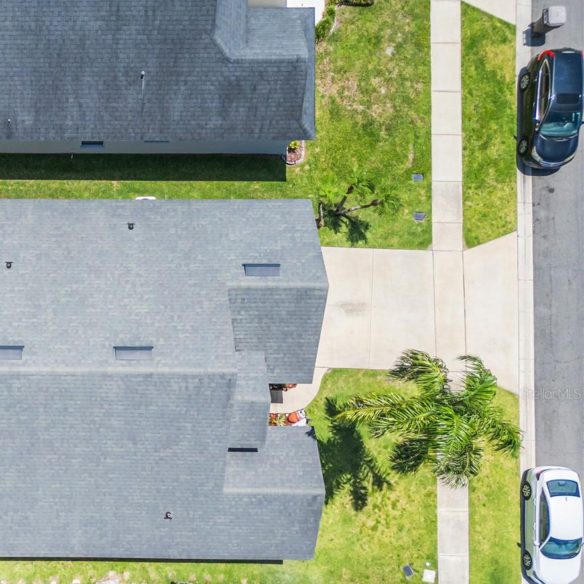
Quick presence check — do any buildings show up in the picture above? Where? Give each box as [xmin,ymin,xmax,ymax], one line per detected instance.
[0,0,317,154]
[0,198,332,559]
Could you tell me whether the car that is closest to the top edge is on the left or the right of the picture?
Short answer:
right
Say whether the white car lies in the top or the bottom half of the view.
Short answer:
bottom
